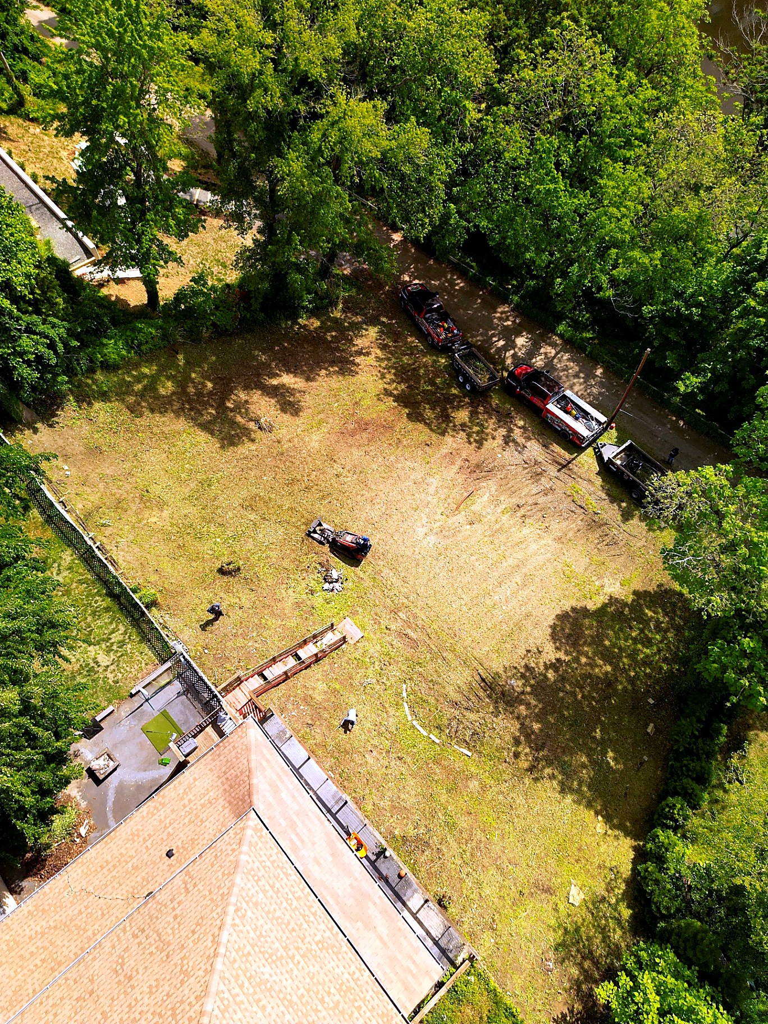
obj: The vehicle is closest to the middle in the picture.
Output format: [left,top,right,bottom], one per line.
[305,520,363,561]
